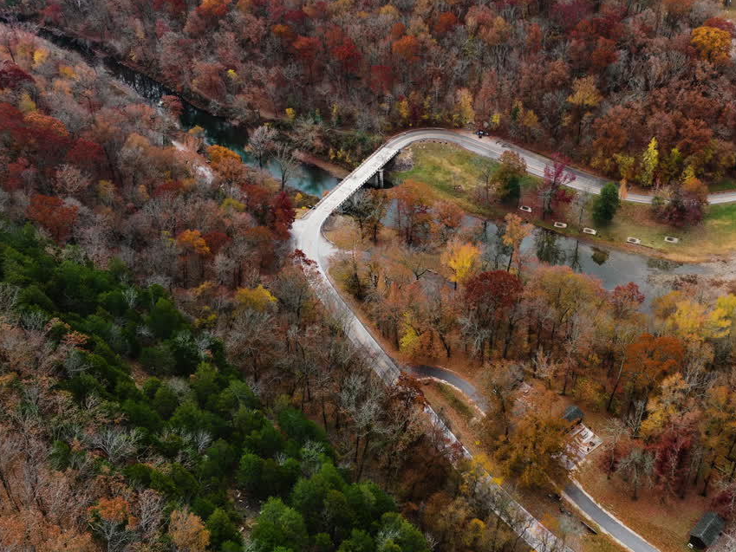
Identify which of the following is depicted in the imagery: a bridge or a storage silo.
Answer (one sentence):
Visible in the photo is a bridge.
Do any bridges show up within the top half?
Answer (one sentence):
Yes, a bridge appears within the top half.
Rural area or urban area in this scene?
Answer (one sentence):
The area shown here is rural.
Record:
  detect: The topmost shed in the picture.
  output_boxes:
[561,403,587,428]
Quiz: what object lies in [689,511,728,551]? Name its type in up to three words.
shed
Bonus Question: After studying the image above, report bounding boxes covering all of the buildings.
[561,403,587,428]
[689,511,728,551]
